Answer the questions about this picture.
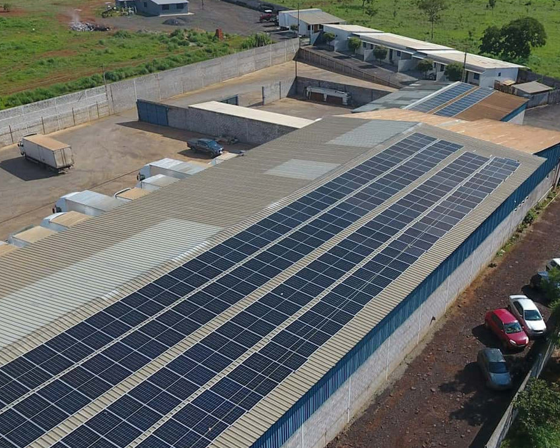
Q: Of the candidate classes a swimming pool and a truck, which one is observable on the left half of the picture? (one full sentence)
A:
It is a truck that can be seen on the left half of the picture.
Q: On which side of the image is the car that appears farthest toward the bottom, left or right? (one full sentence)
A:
The car that appears farthest toward the bottom appears in the right half of the scene.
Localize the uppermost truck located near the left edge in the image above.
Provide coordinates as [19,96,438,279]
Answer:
[14,133,79,174]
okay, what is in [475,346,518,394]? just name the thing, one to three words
car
